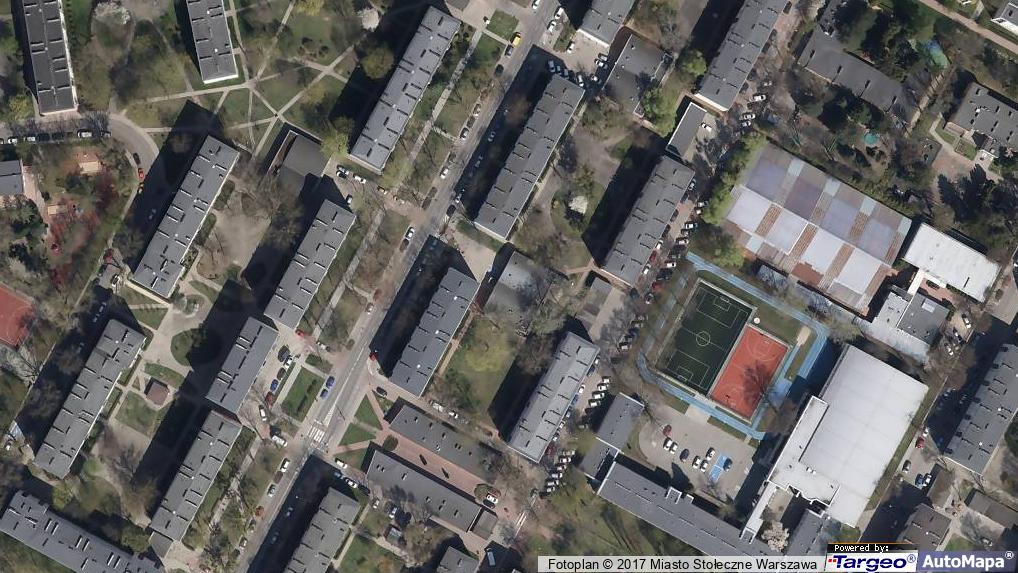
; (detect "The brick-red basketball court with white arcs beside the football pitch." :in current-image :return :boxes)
[711,324,791,421]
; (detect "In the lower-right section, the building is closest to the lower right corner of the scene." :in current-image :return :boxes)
[970,491,1018,534]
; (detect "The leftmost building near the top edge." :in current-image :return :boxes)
[23,0,80,117]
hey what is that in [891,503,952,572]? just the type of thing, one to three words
building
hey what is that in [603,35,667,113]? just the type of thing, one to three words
building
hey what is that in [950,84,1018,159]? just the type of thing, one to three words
house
